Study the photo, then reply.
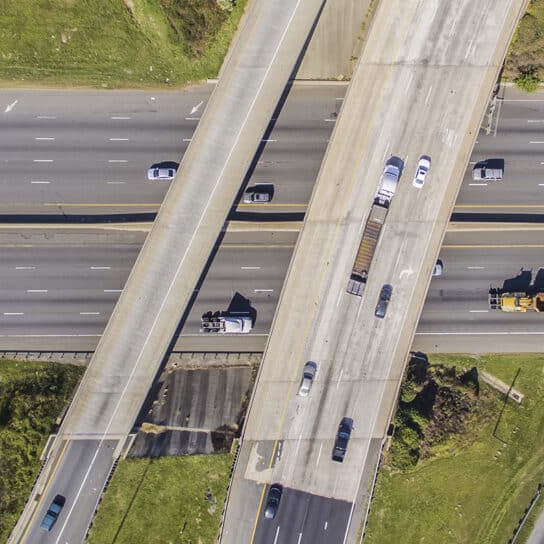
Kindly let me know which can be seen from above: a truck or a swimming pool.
truck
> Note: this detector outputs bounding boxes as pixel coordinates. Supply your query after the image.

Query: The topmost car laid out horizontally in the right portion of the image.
[472,166,503,180]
